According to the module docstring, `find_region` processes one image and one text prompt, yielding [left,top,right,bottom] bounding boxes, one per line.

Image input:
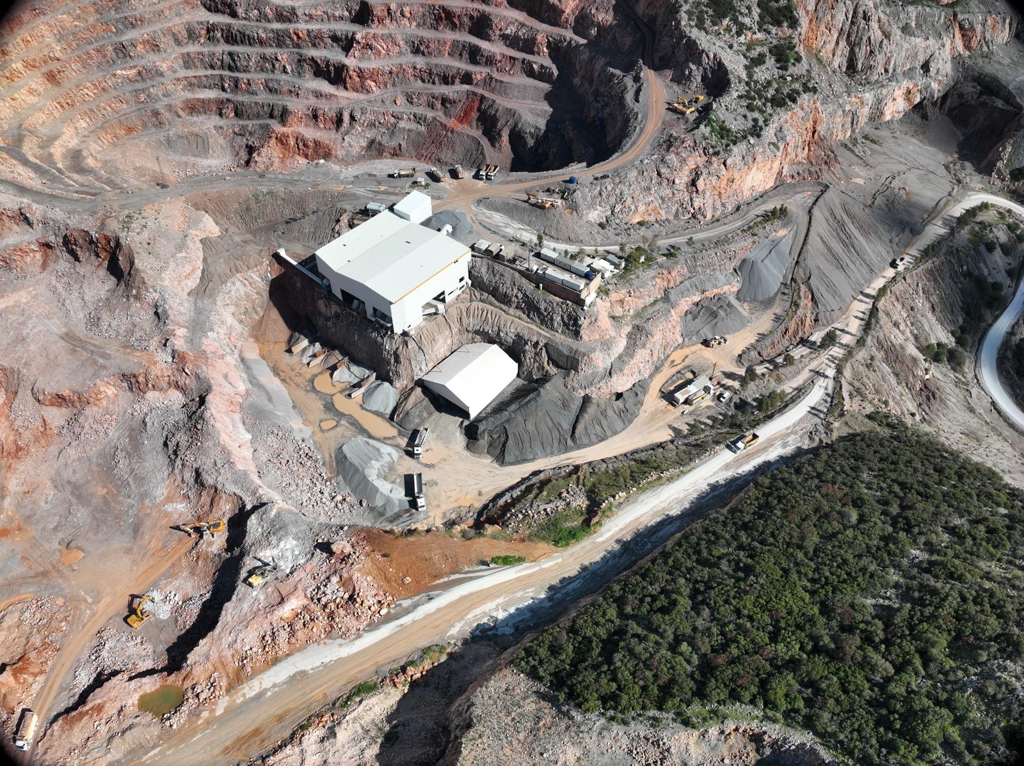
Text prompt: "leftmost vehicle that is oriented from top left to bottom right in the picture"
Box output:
[430,166,448,182]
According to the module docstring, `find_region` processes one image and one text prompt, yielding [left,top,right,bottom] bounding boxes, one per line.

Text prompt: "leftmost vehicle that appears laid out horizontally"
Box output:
[173,520,218,536]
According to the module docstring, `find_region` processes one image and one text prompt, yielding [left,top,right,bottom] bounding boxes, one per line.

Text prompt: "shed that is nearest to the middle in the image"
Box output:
[422,334,518,421]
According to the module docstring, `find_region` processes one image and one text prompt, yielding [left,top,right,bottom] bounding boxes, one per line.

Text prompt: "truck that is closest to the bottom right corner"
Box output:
[731,432,763,454]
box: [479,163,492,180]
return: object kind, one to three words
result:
vehicle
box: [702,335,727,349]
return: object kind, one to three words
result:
work vehicle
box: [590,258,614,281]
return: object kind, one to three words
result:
shed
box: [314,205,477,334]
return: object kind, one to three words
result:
building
